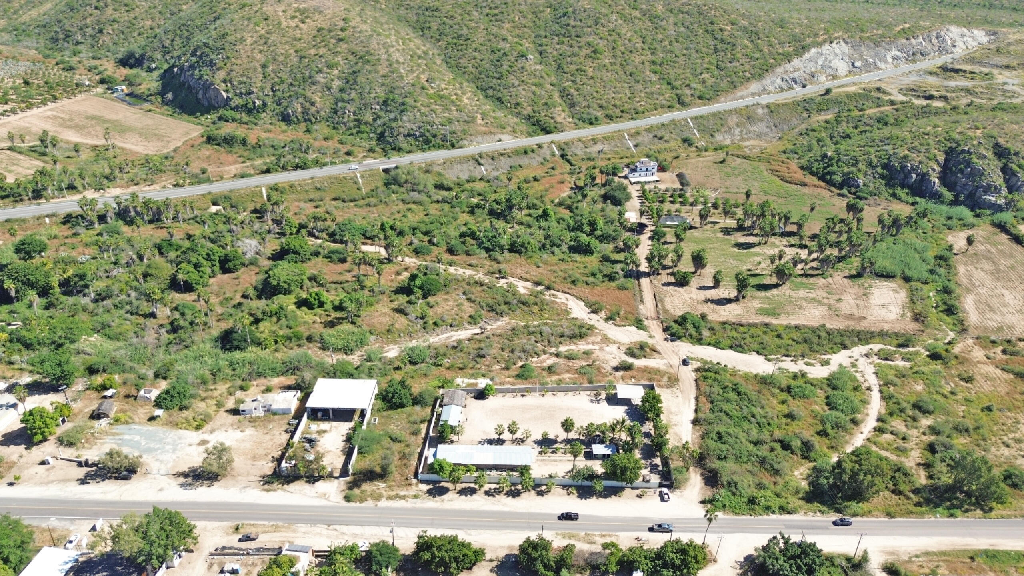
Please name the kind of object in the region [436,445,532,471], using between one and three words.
shed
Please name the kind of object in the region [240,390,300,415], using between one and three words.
house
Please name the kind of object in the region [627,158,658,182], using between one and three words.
house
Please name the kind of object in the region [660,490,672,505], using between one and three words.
vehicle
